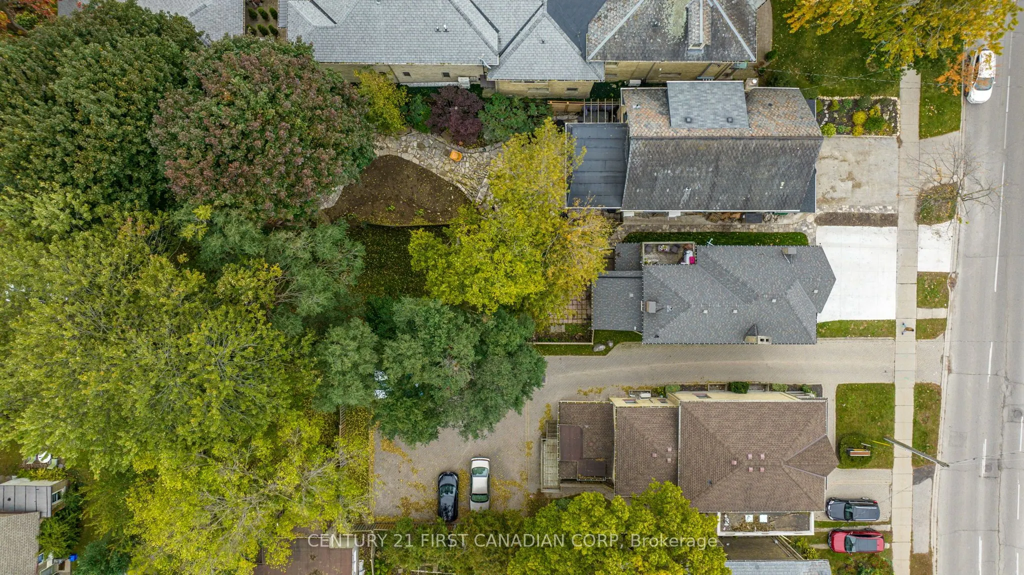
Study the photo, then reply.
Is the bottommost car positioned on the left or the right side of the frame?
right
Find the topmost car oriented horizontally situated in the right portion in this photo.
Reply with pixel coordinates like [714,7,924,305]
[824,495,881,523]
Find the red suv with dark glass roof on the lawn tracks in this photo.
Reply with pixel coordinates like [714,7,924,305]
[826,526,885,556]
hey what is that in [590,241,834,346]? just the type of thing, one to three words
house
